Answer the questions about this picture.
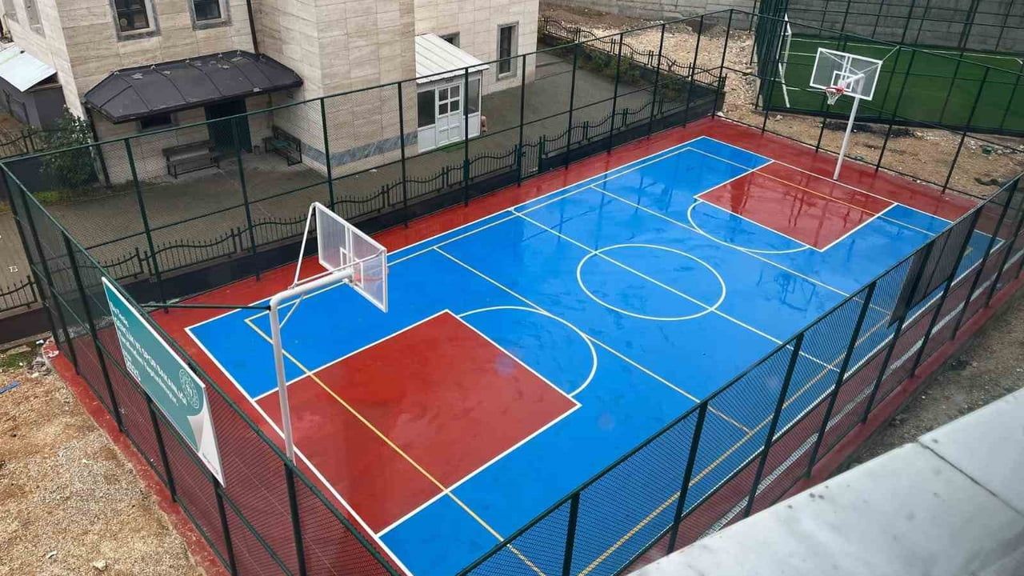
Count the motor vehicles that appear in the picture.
0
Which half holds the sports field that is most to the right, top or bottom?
top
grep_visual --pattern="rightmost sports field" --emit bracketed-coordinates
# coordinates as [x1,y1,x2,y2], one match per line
[754,32,1024,123]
